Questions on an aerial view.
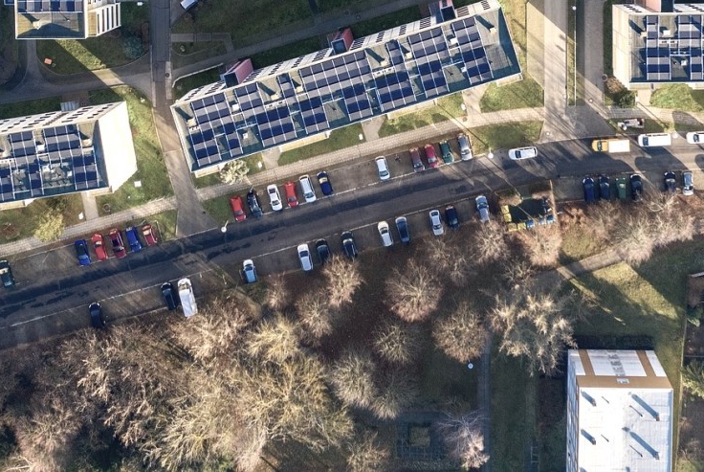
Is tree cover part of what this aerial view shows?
Yes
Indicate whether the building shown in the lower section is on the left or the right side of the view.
right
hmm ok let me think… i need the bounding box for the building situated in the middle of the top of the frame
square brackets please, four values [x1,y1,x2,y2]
[171,0,521,182]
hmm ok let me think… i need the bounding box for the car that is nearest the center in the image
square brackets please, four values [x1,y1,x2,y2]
[341,230,358,261]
